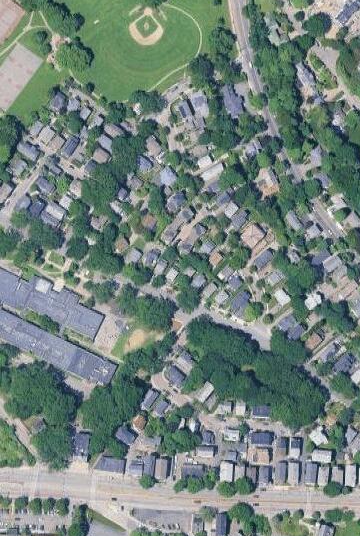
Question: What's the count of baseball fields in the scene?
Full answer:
I count just 1 baseball field.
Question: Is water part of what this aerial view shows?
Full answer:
No, there is no water in the image.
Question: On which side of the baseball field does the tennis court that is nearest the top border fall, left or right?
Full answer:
The tennis court that is nearest the top border can be seen on the left of the baseball field.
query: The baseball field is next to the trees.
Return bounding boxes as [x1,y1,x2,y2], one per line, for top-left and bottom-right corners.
[96,2,199,95]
